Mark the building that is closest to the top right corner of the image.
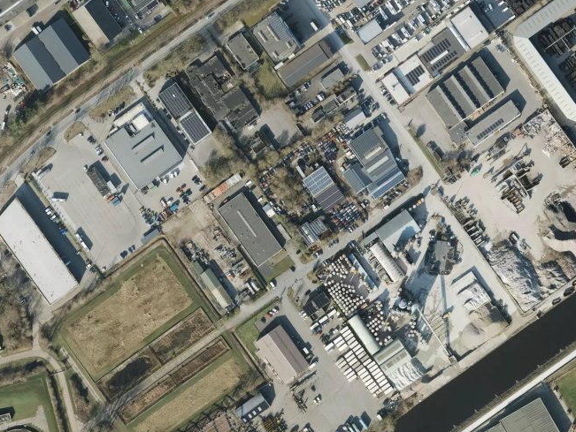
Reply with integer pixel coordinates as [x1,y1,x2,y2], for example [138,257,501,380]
[474,0,515,34]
